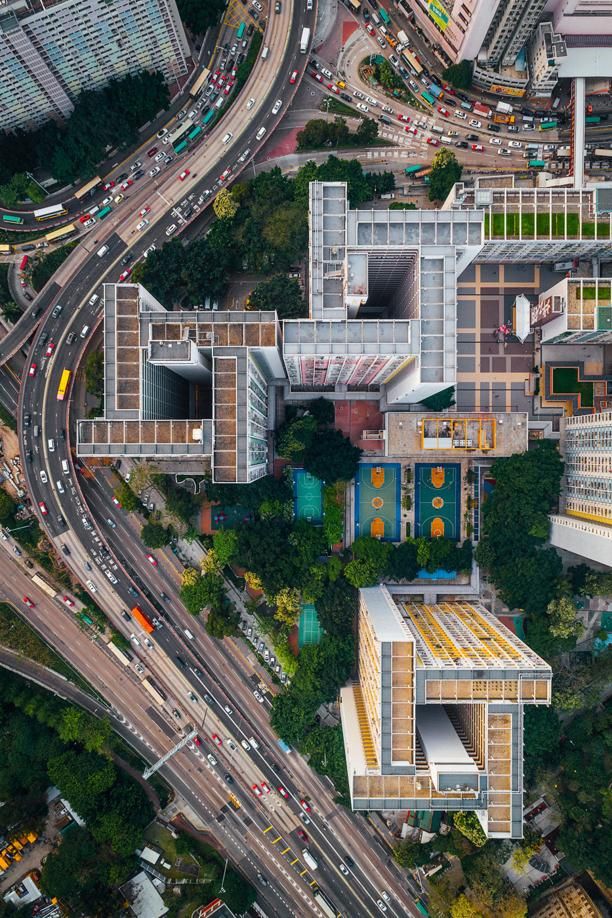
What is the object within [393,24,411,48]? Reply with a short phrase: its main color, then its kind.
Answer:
white vehicle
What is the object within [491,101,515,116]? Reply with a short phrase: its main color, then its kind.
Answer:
white vehicle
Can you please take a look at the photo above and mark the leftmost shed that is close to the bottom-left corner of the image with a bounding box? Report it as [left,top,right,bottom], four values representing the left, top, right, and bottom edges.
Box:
[4,870,47,910]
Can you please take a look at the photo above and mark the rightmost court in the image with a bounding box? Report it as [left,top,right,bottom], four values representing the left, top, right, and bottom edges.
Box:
[415,463,461,541]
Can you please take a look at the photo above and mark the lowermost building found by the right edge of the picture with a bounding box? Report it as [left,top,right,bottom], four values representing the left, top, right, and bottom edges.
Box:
[521,867,603,918]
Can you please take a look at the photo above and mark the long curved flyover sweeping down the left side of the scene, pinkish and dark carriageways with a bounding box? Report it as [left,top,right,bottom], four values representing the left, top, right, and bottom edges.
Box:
[15,0,403,918]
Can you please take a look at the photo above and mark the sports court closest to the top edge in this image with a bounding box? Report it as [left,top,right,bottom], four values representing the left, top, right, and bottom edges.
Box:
[334,400,383,456]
